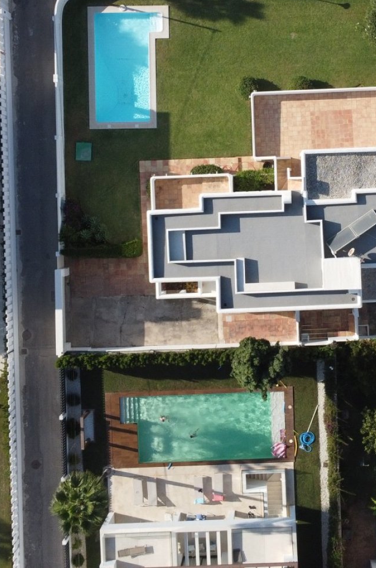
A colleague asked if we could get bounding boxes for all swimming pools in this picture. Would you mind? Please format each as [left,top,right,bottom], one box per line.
[88,5,170,128]
[118,390,288,465]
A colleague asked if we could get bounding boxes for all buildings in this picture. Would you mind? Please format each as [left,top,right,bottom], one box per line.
[100,467,299,568]
[148,88,376,314]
